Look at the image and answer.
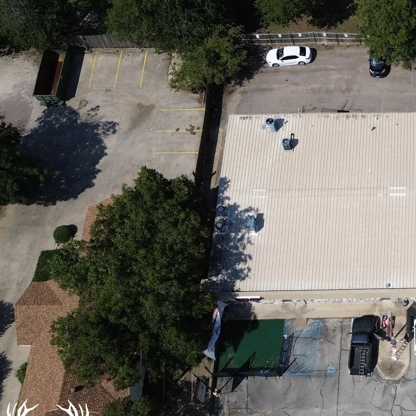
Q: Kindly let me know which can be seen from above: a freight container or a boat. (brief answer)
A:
freight container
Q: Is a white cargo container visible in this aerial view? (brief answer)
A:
No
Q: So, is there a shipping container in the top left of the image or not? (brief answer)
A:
Yes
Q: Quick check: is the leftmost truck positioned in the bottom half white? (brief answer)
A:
No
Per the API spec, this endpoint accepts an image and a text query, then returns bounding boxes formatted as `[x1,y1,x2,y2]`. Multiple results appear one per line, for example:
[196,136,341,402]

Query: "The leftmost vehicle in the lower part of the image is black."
[348,318,383,379]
